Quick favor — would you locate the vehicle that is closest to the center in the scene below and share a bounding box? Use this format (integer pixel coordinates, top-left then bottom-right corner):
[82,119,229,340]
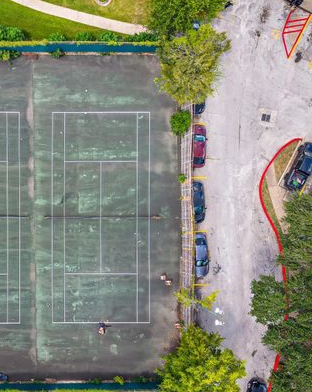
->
[188,181,209,224]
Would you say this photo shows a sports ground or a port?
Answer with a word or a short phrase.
sports ground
